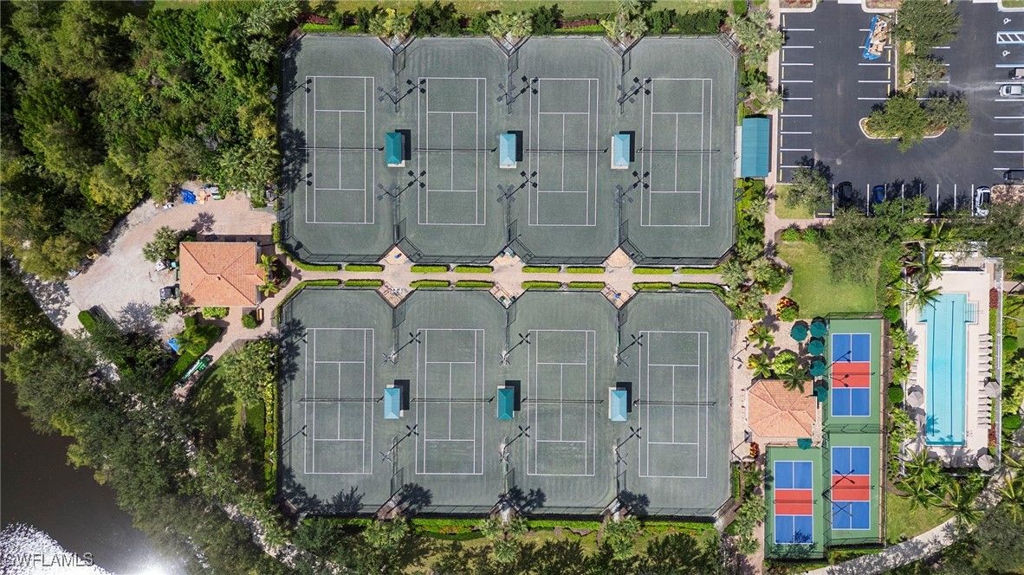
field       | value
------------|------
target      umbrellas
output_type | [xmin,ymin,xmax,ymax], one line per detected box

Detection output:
[806,338,824,356]
[808,320,827,337]
[796,437,812,451]
[808,359,825,376]
[978,380,998,397]
[813,385,829,403]
[973,454,993,472]
[905,390,924,408]
[790,323,808,341]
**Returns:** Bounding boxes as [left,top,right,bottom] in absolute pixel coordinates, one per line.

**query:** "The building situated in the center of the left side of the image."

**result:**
[179,242,268,306]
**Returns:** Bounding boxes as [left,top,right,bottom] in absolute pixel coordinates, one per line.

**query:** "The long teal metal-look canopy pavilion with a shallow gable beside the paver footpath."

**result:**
[737,117,769,178]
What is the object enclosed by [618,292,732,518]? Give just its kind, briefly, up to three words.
tennis court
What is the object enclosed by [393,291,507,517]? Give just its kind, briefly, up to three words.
tennis court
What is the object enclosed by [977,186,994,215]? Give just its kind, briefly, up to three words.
car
